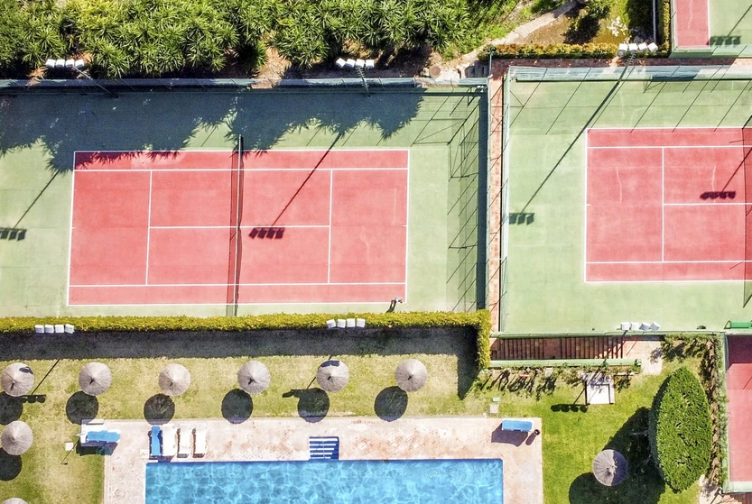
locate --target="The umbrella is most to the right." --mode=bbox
[592,449,627,485]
